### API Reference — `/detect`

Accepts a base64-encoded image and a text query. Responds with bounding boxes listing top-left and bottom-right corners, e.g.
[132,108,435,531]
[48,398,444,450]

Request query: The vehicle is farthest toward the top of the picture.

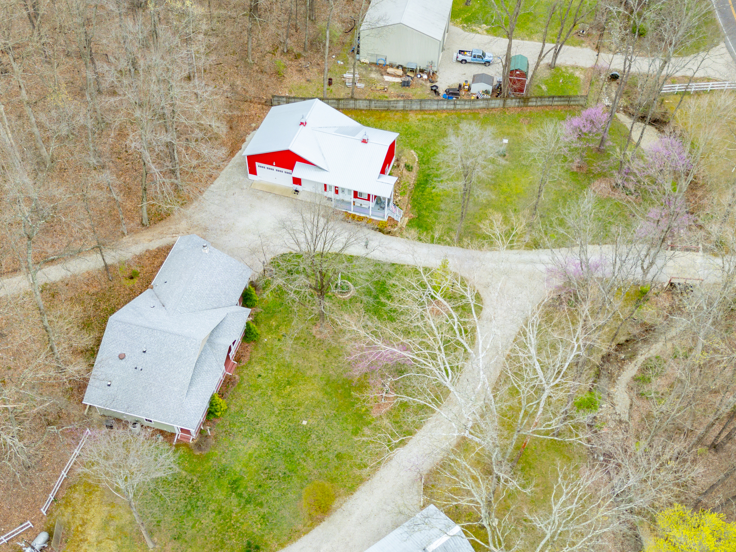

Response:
[456,47,497,66]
